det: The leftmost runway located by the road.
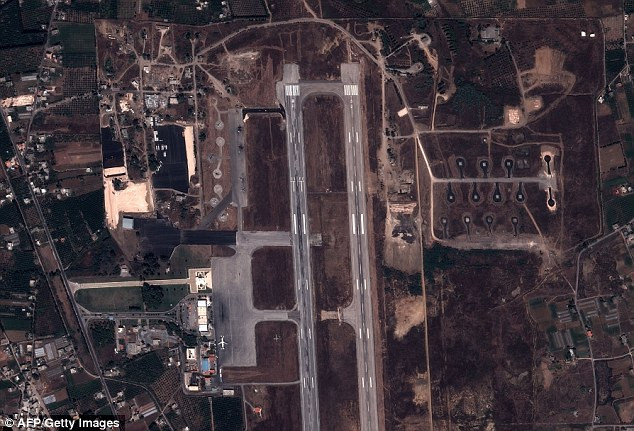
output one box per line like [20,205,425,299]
[284,81,319,431]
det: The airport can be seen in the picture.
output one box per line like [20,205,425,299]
[102,63,378,431]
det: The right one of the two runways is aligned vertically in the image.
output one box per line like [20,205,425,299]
[342,81,378,431]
